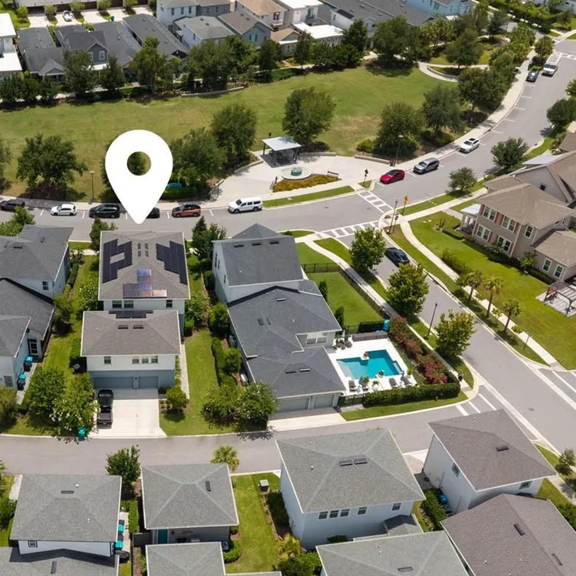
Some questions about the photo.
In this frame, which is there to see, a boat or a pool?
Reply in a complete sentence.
There is a pool in the scene.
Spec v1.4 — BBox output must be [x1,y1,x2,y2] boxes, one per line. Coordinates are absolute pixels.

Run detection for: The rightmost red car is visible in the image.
[379,168,406,182]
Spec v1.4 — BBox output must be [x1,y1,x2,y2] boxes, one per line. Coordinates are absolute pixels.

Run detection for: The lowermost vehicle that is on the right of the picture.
[382,247,412,266]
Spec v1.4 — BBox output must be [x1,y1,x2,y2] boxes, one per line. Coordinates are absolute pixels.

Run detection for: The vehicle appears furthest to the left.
[0,196,28,211]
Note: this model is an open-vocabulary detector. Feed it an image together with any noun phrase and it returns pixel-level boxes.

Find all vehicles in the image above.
[172,204,200,217]
[456,137,482,153]
[379,168,406,182]
[0,196,28,211]
[412,157,441,172]
[88,202,120,217]
[64,12,72,21]
[382,247,412,266]
[50,203,77,216]
[95,389,114,427]
[526,70,538,80]
[228,196,262,213]
[543,57,557,72]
